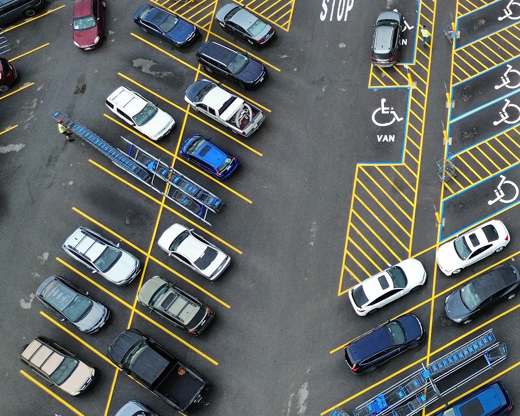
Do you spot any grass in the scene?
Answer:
No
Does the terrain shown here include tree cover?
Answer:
No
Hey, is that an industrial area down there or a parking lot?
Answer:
parking lot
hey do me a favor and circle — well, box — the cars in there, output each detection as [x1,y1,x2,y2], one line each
[194,39,269,92]
[112,397,162,416]
[342,312,431,378]
[62,225,143,288]
[0,0,41,27]
[138,276,219,340]
[18,333,104,400]
[429,379,514,416]
[371,10,406,70]
[31,271,113,335]
[443,262,520,327]
[434,218,512,278]
[179,133,242,182]
[67,0,108,53]
[157,223,233,283]
[342,259,429,321]
[105,86,178,141]
[212,3,279,48]
[130,3,199,49]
